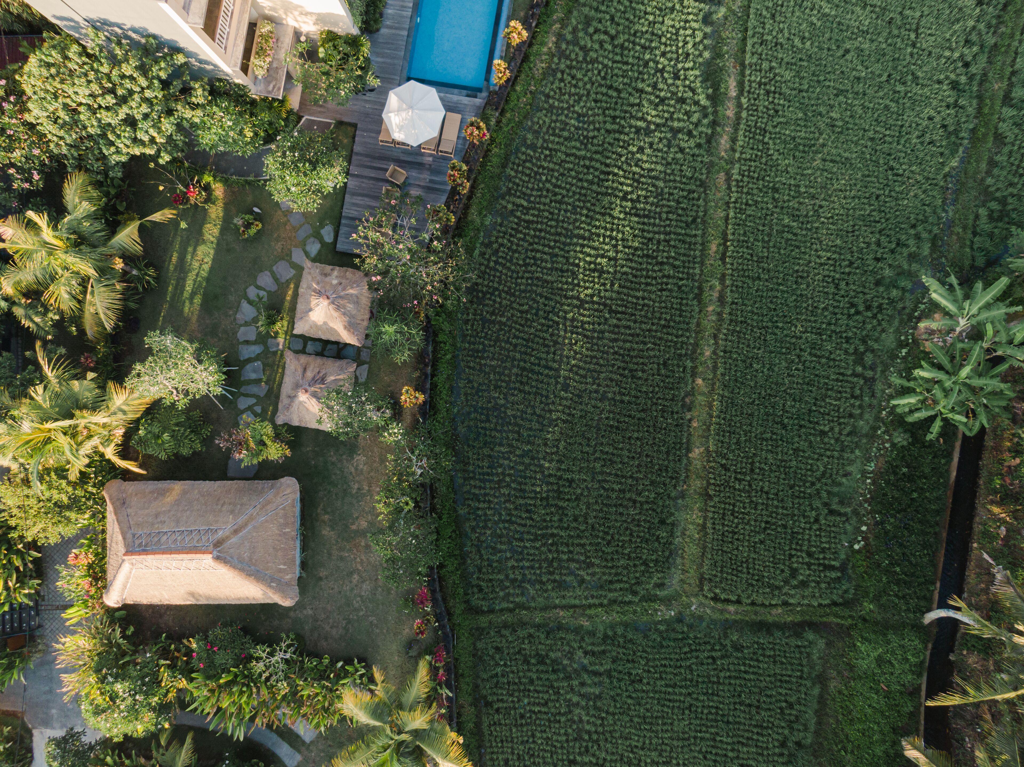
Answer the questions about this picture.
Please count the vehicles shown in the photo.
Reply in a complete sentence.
There are no vehicles in the image.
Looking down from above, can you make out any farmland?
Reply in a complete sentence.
Yes, farmland can be seen from above here.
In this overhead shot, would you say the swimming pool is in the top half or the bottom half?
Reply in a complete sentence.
The swimming pool is in the top half of the image.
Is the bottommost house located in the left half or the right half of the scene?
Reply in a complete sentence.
The bottommost house sits on the left side.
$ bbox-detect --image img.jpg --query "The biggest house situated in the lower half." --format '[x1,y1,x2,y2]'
[102,477,304,608]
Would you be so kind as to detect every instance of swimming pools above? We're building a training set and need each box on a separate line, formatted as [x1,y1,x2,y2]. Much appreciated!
[399,0,512,101]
